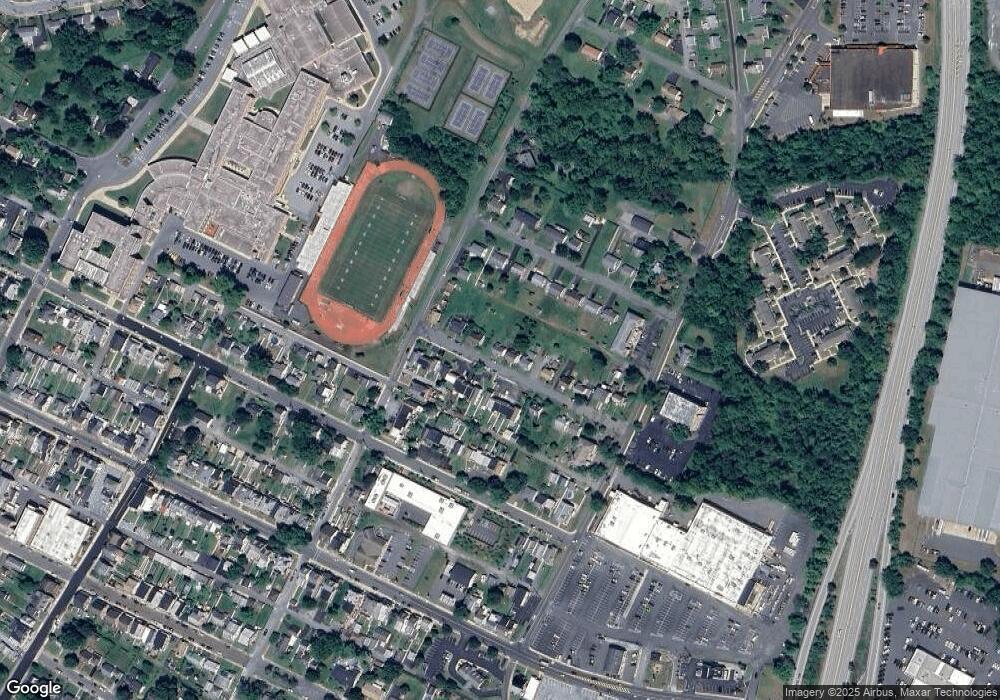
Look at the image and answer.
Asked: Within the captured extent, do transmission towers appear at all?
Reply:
No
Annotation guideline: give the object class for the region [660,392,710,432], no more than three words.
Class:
building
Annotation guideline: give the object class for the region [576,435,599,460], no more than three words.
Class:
house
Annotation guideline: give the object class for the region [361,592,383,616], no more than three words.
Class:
house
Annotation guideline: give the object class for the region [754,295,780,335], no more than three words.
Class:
building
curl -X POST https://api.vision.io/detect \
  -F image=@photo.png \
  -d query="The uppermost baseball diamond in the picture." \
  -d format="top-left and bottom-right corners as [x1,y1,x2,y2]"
[507,0,549,46]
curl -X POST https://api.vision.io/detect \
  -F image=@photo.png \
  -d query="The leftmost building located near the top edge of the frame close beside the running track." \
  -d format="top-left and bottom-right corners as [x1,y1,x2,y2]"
[131,0,377,263]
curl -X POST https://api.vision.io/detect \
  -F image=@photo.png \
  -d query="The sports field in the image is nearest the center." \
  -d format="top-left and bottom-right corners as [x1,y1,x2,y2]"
[320,171,435,321]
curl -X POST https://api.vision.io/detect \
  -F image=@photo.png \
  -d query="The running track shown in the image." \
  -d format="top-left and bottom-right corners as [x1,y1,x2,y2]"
[300,159,444,345]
